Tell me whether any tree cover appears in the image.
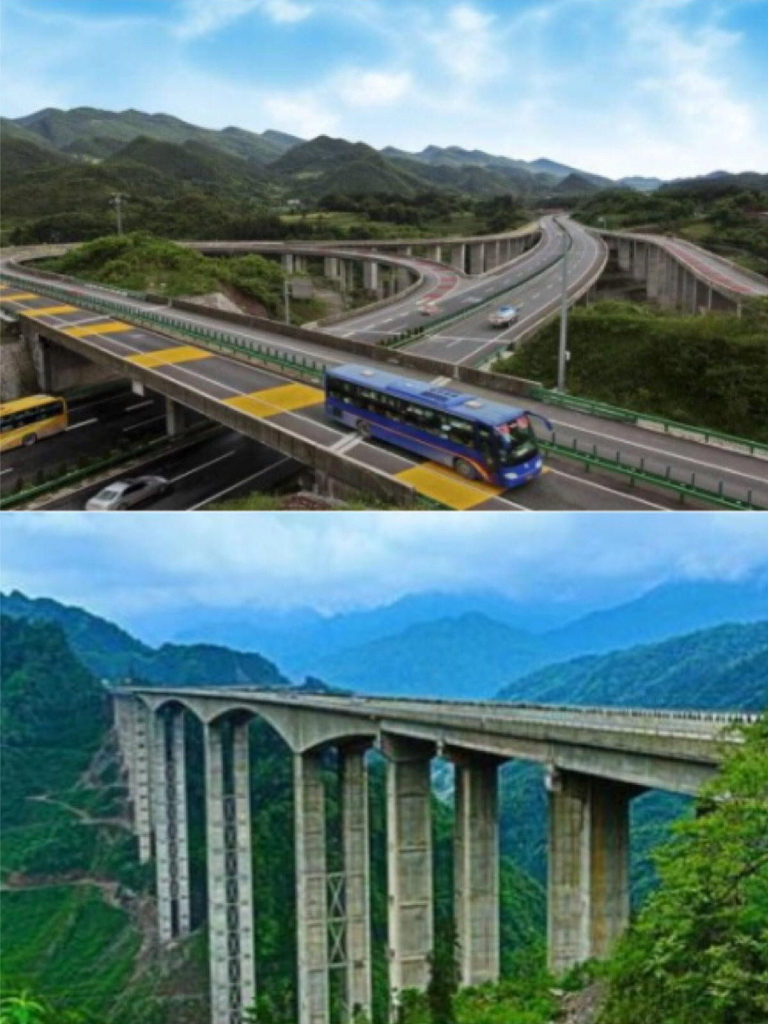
Yes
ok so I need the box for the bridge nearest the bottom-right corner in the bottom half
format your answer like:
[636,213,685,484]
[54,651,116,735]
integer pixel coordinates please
[105,686,768,1024]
